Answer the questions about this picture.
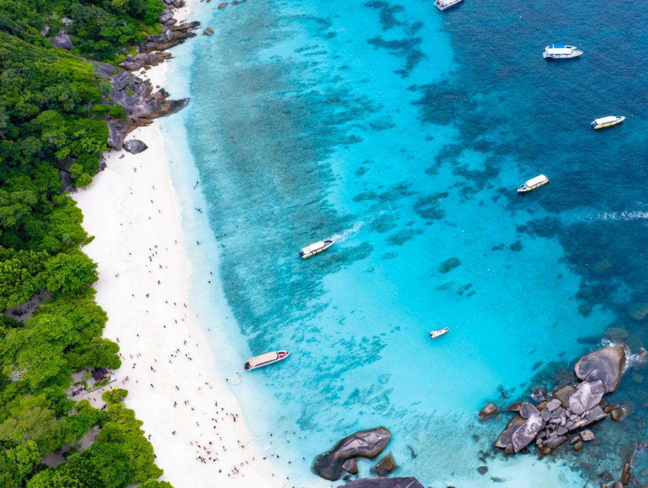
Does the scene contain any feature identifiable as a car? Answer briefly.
No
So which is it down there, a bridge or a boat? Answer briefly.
boat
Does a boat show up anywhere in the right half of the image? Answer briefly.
Yes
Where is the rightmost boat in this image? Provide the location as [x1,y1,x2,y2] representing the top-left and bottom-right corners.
[587,114,625,130]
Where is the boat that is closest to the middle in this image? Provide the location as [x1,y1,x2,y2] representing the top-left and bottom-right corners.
[297,240,333,261]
